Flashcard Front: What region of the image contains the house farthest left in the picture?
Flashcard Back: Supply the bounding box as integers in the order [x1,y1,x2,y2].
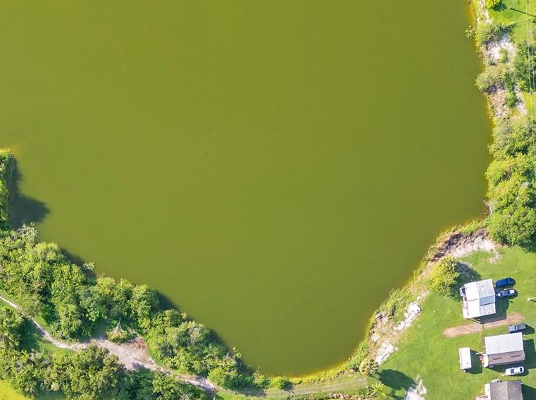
[453,280,497,318]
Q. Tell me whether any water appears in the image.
Yes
